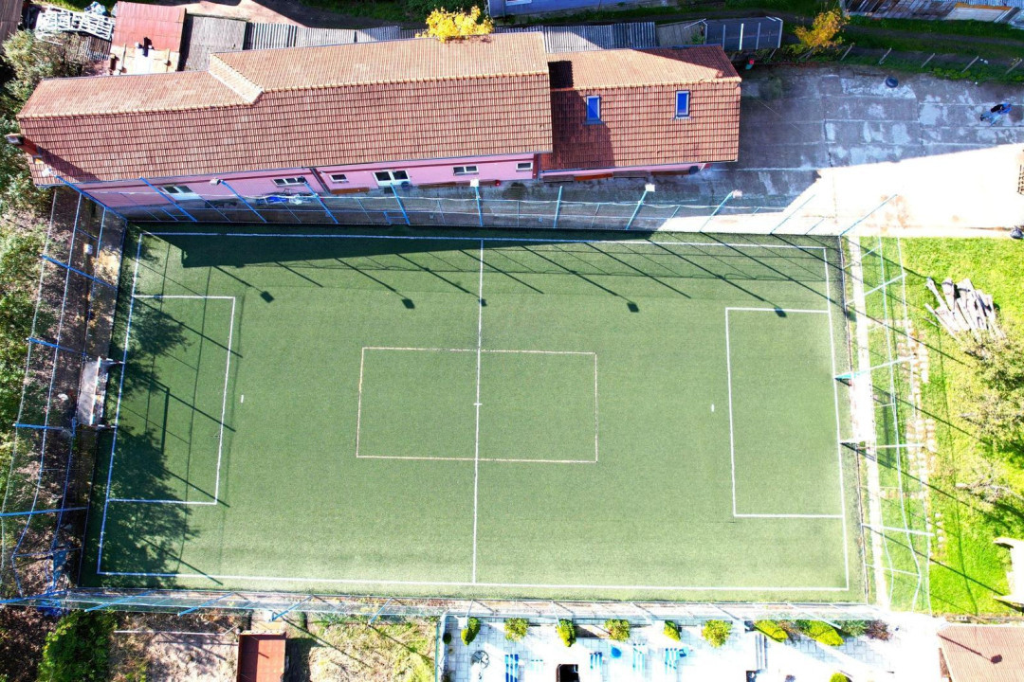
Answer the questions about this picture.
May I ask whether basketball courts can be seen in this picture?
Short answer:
No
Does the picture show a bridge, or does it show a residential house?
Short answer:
residential house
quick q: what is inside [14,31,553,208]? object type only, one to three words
house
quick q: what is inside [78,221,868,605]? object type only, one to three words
soccer field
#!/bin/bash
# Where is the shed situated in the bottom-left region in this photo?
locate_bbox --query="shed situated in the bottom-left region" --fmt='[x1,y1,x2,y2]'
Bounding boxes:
[233,629,291,682]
